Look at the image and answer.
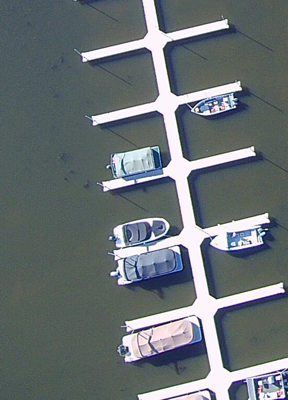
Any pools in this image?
No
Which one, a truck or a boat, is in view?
boat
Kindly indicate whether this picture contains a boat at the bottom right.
Yes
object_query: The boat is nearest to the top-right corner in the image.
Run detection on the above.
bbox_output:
[191,94,236,115]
